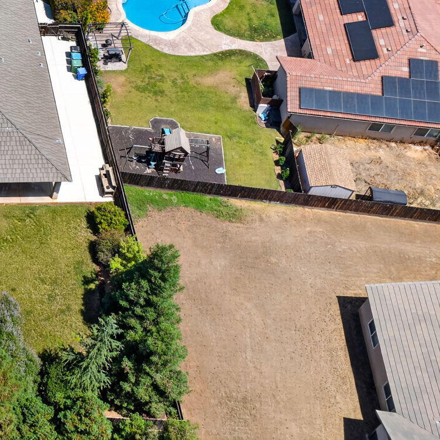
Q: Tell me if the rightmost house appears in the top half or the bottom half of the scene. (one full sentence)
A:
The rightmost house sits in the bottom half of the picture.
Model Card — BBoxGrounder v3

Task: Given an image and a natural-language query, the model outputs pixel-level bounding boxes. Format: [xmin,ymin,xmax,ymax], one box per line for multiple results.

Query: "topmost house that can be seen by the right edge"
[273,0,440,144]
